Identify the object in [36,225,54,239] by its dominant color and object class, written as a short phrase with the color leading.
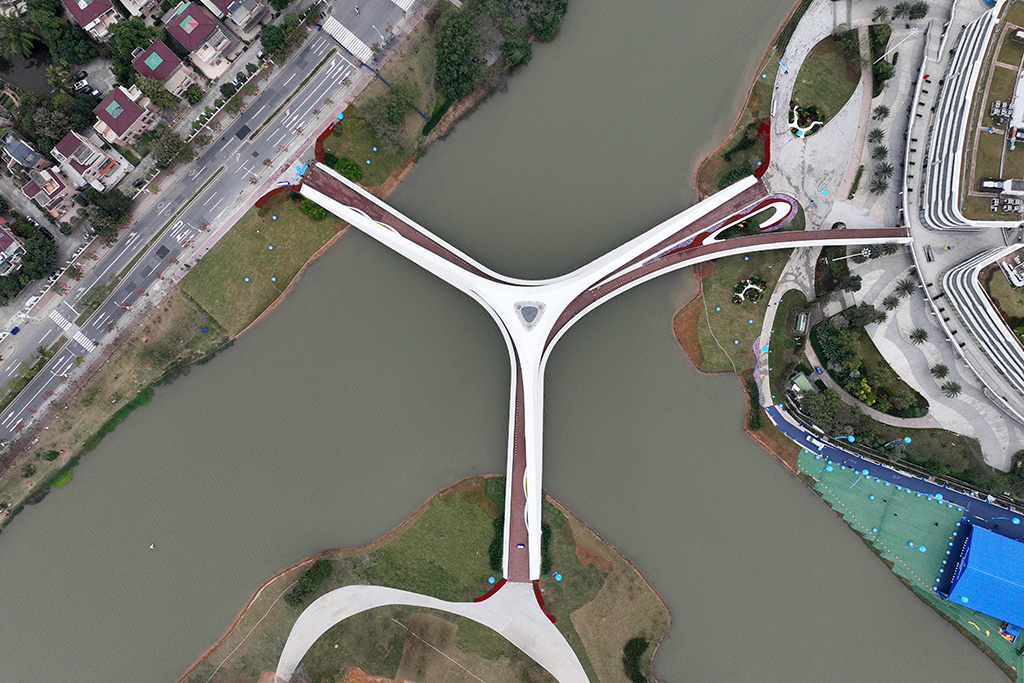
black car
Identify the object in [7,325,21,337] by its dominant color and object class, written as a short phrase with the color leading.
blue vehicle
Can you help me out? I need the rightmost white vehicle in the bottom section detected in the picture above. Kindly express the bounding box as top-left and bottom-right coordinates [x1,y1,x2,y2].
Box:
[807,435,827,450]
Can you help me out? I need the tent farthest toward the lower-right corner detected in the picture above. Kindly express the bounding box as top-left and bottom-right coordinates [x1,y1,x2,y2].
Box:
[939,521,1024,626]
